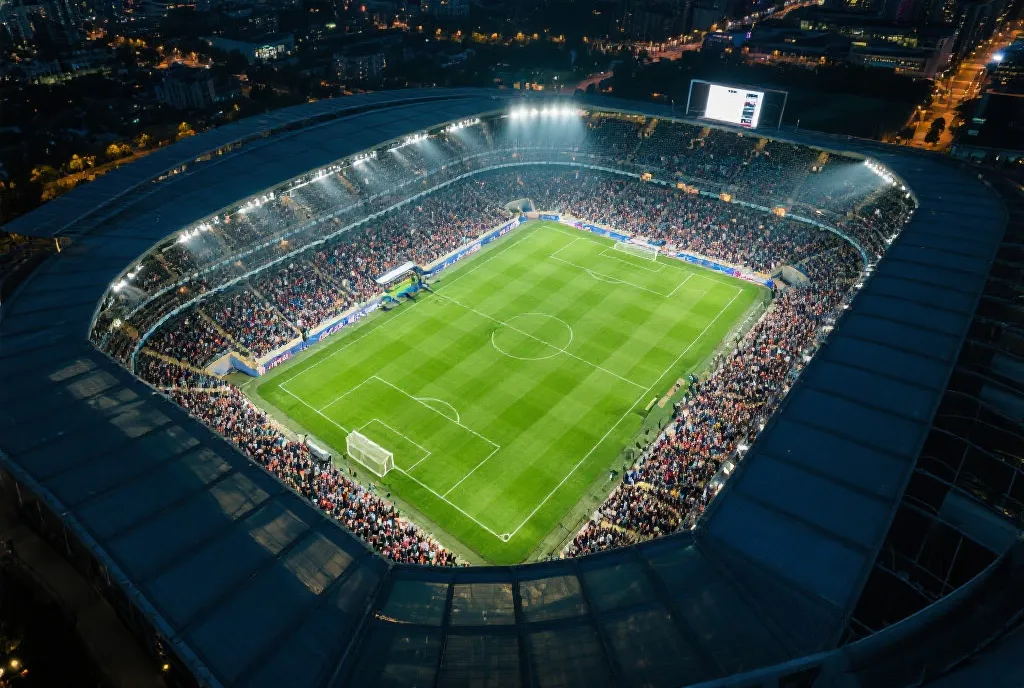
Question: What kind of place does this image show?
sports ground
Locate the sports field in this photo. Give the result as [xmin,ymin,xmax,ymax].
[262,218,752,554]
